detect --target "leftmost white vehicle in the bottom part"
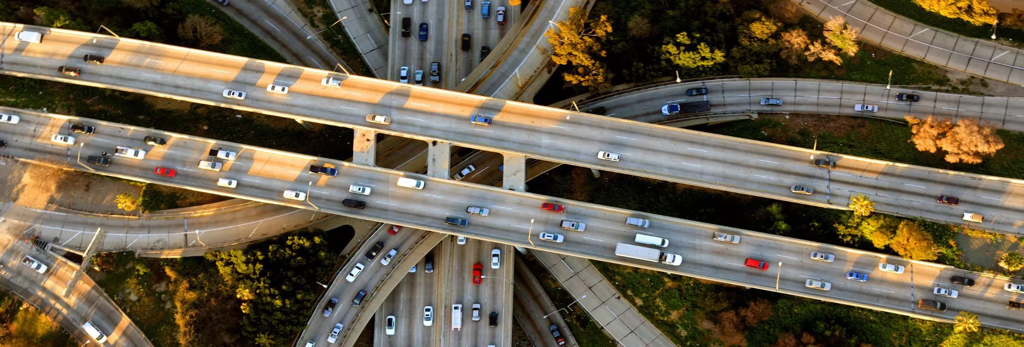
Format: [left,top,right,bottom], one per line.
[19,253,50,275]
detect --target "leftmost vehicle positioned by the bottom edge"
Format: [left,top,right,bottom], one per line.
[80,317,109,346]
